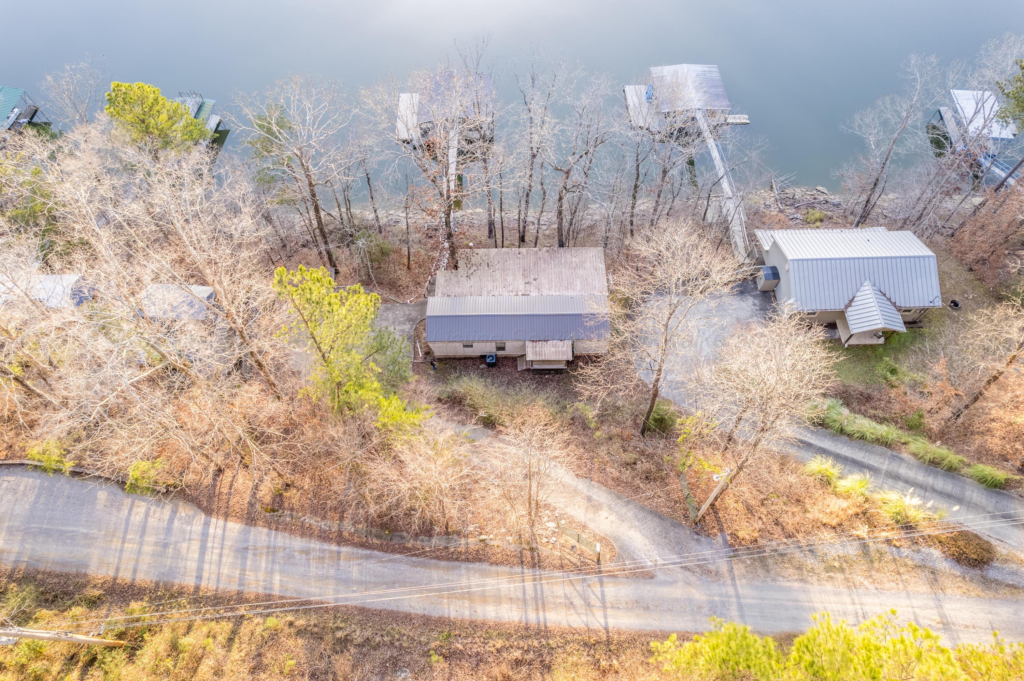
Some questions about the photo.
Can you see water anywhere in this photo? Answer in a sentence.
Yes, some water is visible.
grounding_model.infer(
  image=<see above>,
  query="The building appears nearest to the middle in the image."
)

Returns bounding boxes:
[421,247,611,373]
